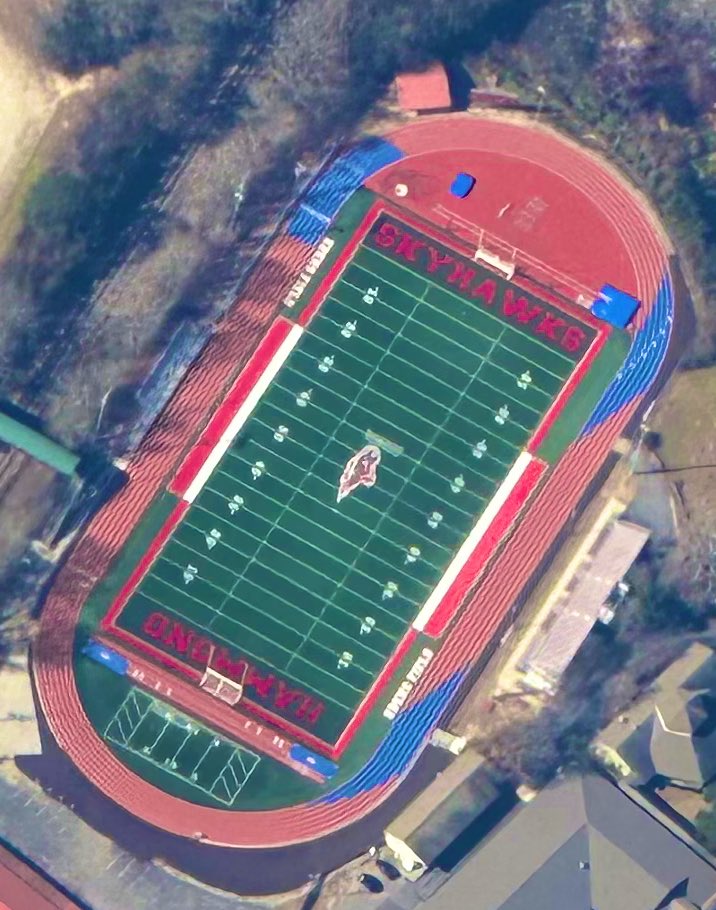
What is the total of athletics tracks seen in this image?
1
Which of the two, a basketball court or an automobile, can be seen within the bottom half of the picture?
automobile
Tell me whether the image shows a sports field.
Yes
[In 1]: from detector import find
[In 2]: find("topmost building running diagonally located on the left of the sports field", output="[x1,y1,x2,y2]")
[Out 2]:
[0,411,81,491]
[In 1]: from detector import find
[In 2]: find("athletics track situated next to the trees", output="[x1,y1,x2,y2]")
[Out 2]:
[30,114,673,846]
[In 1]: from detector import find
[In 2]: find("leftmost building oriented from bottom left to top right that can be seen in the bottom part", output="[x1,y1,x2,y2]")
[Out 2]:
[382,748,505,875]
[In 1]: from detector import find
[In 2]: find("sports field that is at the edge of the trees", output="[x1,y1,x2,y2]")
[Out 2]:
[102,202,608,759]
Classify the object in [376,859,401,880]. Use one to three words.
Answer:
car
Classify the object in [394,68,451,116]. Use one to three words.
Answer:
shed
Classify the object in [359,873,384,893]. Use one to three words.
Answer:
car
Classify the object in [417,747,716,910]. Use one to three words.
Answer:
building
